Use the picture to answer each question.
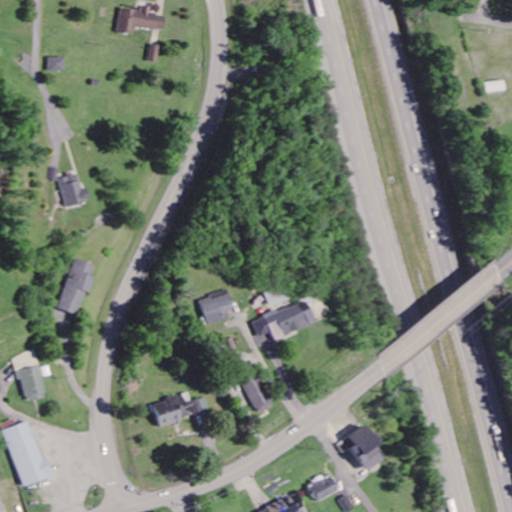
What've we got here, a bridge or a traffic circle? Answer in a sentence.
Looking from above, you can make out a bridge.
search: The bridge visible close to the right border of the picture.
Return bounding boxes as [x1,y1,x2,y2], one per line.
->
[378,260,508,376]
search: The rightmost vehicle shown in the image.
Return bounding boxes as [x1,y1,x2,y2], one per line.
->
[492,428,508,462]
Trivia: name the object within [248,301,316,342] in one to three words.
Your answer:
house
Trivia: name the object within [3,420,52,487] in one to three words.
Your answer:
barn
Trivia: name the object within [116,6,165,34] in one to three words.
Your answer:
house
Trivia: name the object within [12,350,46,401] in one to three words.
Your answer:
building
